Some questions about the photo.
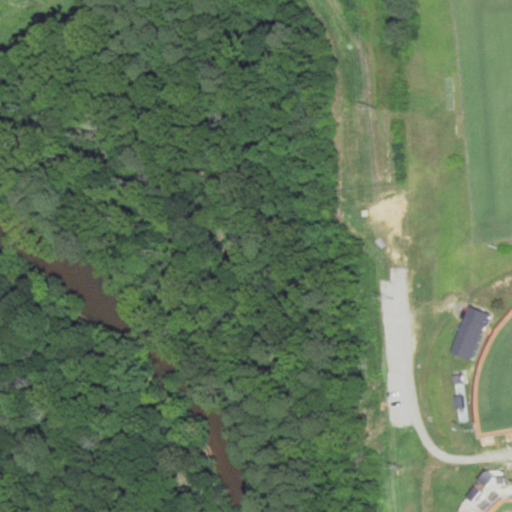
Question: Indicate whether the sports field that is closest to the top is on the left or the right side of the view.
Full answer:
The sports field that is closest to the top appears in the right half of the scene.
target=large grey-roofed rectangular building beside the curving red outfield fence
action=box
[450,305,490,360]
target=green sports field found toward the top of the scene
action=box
[453,0,512,243]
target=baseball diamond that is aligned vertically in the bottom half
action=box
[473,308,512,438]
